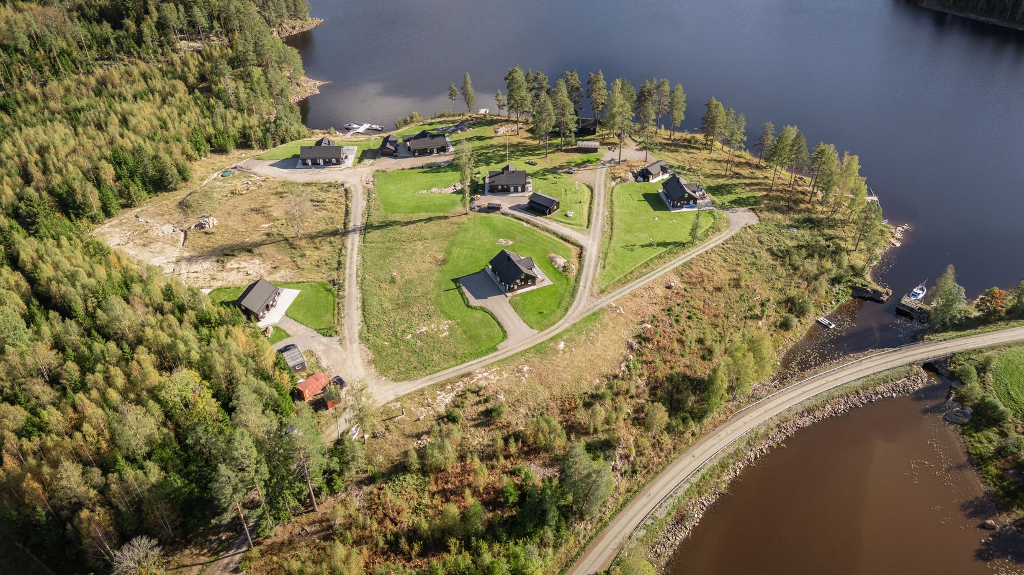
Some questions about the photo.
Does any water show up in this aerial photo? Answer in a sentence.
Yes, the picture does contain water.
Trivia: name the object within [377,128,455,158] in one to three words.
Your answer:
house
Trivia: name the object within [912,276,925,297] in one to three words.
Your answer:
boat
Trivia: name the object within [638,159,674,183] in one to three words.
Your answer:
house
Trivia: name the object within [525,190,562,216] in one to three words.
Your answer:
building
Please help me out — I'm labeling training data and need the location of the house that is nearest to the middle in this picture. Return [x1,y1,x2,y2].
[486,249,553,297]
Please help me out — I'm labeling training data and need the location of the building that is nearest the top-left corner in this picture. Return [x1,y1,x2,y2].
[296,136,357,168]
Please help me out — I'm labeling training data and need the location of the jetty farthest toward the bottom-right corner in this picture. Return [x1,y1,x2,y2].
[898,290,934,322]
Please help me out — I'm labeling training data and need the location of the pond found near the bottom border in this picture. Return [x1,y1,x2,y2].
[663,363,1024,575]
